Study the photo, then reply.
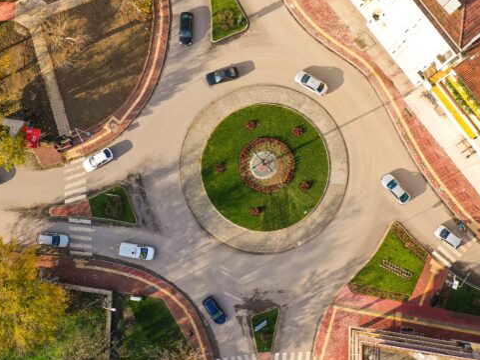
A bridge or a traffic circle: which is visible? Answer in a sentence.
This aerial view contains a traffic circle.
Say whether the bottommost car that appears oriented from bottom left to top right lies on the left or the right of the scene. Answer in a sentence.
The bottommost car that appears oriented from bottom left to top right appears in the left half of the scene.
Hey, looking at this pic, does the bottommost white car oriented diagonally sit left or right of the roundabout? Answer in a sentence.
The bottommost white car oriented diagonally appears to the right of the roundabout in this view.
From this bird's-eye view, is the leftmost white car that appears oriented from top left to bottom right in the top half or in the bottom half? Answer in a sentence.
You can find the leftmost white car that appears oriented from top left to bottom right in the top half.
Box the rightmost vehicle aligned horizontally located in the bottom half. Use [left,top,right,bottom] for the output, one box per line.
[117,242,156,261]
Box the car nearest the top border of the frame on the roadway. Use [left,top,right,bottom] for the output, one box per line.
[177,13,194,45]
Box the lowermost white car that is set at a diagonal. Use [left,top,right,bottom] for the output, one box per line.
[433,224,464,251]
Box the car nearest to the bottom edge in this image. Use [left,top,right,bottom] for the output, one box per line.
[199,292,229,326]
